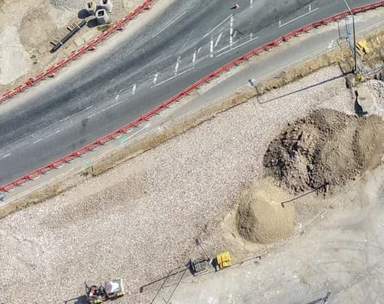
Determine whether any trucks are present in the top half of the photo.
No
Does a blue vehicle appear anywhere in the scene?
No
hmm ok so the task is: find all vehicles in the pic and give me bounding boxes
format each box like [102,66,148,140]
[86,277,122,304]
[197,247,232,275]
